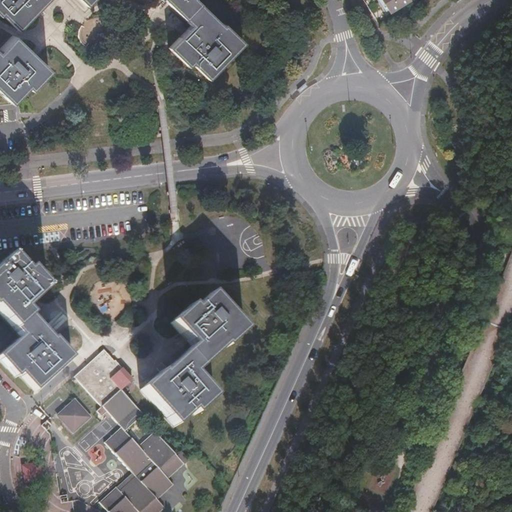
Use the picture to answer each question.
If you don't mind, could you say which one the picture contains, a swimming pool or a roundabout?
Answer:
roundabout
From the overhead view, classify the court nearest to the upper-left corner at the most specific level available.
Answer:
basketball court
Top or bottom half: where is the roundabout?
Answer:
top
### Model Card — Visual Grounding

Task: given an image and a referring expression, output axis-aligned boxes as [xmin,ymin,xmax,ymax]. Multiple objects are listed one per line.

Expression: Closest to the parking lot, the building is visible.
[0,248,78,388]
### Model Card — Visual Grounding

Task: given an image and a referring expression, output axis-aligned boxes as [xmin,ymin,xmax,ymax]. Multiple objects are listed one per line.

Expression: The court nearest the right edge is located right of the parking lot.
[188,216,269,279]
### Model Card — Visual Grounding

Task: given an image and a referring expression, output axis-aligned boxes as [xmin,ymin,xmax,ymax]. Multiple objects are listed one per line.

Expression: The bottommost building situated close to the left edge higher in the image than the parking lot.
[0,40,54,106]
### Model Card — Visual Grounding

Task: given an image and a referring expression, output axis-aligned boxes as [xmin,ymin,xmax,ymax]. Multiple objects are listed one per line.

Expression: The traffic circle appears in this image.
[280,72,422,216]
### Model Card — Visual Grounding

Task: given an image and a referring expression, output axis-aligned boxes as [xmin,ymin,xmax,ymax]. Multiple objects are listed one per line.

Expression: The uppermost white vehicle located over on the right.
[390,169,404,189]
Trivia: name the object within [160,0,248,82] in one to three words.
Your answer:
building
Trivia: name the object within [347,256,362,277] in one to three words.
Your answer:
vehicle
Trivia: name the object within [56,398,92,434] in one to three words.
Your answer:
house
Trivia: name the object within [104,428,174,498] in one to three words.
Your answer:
building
